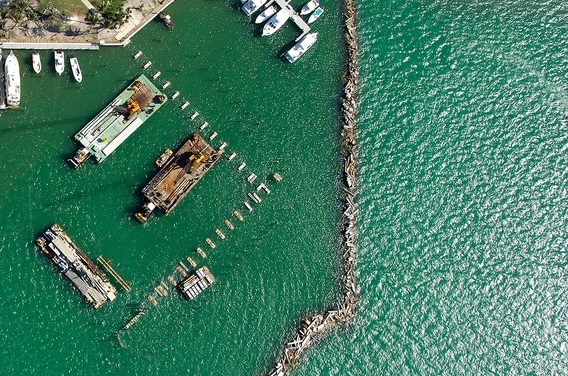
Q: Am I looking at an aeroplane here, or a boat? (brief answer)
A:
boat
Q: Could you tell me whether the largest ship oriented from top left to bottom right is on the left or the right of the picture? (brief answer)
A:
left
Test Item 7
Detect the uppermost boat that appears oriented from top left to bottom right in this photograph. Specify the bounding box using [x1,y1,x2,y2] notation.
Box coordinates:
[158,14,173,30]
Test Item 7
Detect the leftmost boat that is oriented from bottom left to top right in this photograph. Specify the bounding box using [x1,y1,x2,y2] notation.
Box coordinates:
[66,144,92,168]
